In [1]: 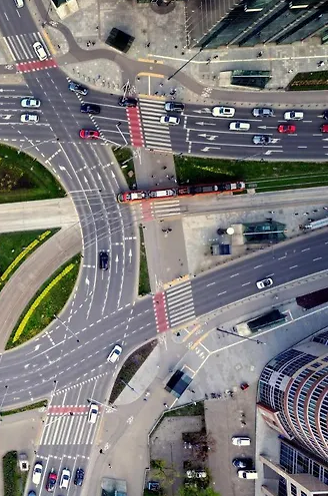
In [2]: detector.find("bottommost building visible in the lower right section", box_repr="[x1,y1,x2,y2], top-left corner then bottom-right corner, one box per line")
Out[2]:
[258,412,328,496]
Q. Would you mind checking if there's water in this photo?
No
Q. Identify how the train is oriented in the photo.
from left to right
